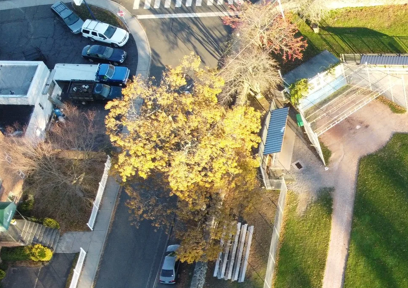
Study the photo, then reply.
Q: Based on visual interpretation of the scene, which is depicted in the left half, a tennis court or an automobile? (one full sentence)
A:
It is an automobile that can be seen in the left half.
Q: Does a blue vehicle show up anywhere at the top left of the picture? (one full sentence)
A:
Yes, a blue vehicle appears at the top left of the picture.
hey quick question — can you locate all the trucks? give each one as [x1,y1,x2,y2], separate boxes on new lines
[56,79,124,104]
[52,59,134,87]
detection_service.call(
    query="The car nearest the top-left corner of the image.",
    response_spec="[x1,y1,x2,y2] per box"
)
[49,0,82,33]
